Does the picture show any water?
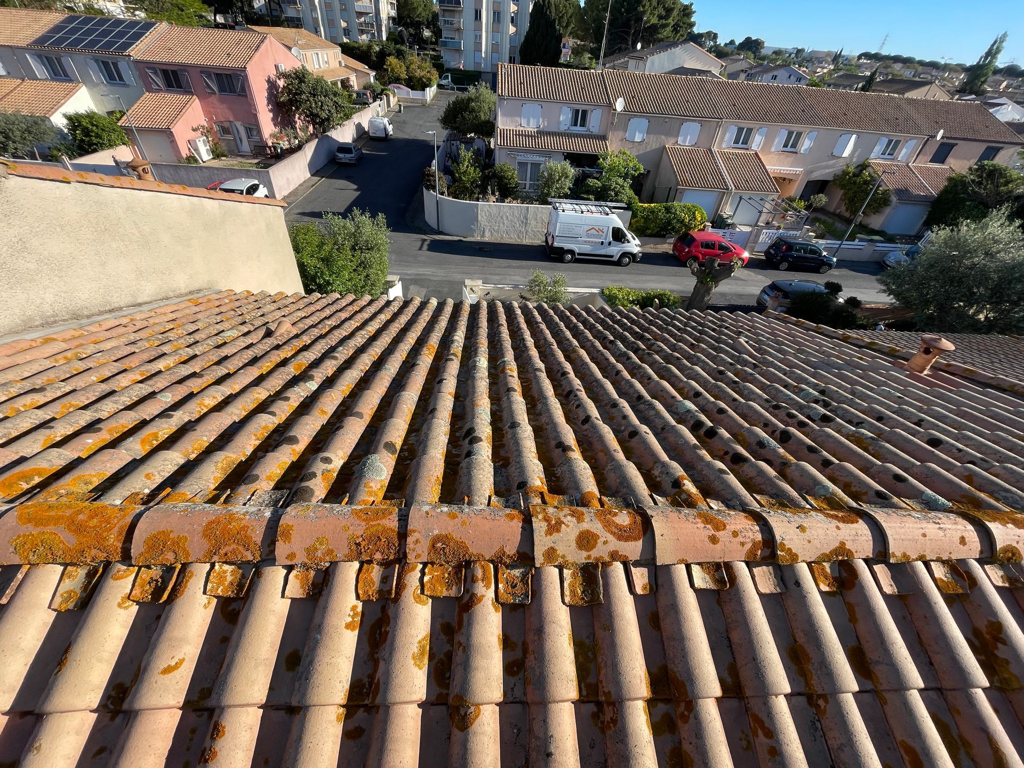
No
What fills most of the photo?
buildings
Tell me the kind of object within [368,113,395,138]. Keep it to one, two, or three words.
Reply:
vehicle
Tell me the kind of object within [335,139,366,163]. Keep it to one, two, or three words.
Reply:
car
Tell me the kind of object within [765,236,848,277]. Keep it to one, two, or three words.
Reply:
car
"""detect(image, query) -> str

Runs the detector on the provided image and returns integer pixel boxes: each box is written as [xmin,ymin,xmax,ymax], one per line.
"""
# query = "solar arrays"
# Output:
[31,13,158,51]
